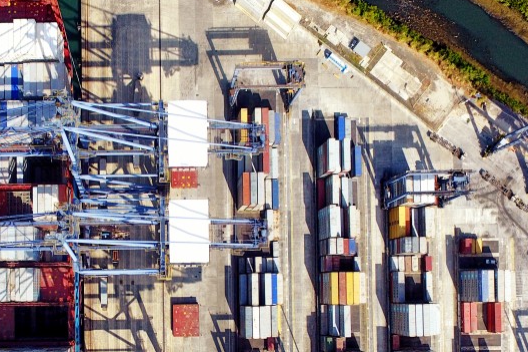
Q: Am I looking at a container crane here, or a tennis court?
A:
container crane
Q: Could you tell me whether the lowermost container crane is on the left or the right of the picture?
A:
left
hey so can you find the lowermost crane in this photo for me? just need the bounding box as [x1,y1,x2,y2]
[0,192,268,284]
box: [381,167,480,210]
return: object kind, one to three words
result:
container crane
